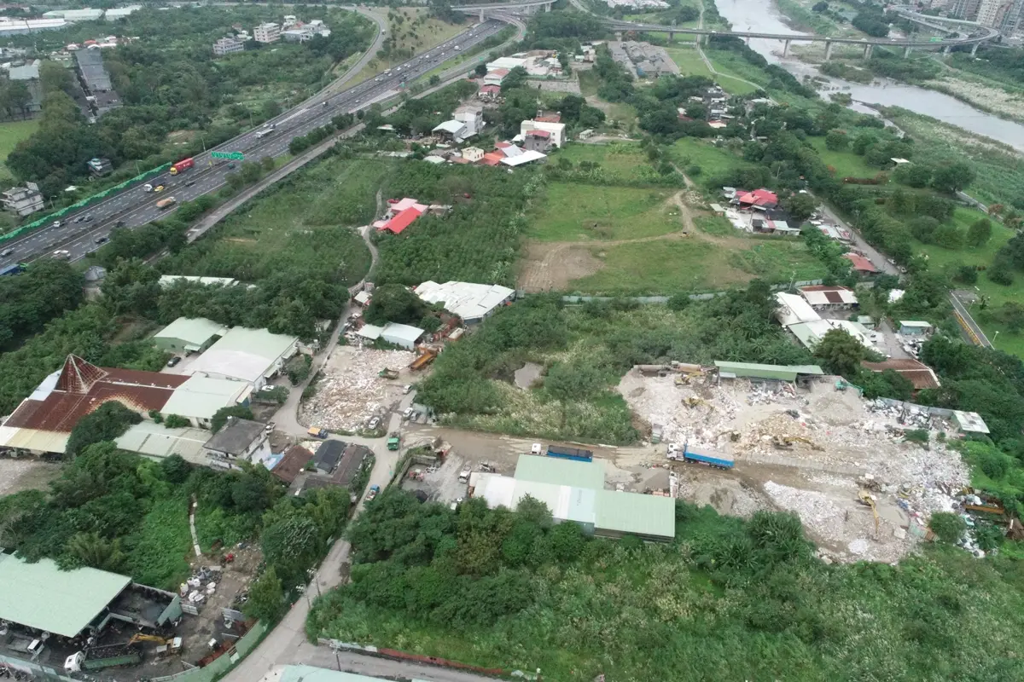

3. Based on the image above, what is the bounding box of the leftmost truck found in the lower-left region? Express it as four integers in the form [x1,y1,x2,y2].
[12,626,45,661]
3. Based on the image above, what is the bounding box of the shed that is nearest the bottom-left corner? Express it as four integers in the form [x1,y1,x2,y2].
[0,550,139,650]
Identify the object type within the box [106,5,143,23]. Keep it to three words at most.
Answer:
building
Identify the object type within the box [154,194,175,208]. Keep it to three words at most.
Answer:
vehicle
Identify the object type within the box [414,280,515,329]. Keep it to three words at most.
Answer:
shed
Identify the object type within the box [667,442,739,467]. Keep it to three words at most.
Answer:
truck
